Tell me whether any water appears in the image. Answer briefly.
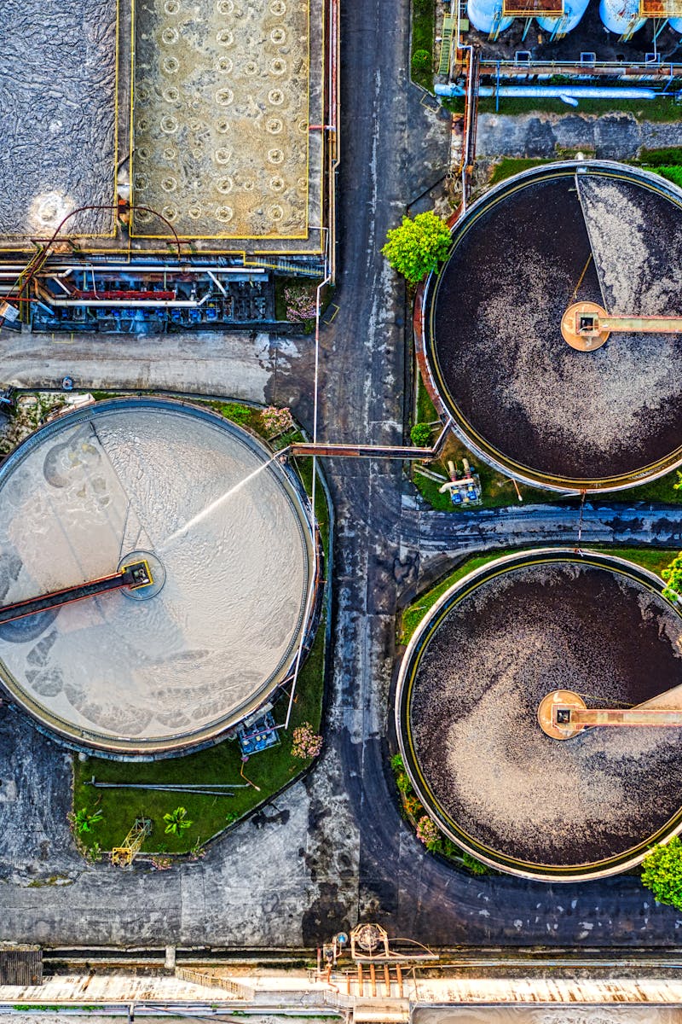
Yes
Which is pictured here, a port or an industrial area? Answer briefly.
industrial area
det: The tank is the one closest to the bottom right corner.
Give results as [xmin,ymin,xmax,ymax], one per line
[395,548,682,882]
